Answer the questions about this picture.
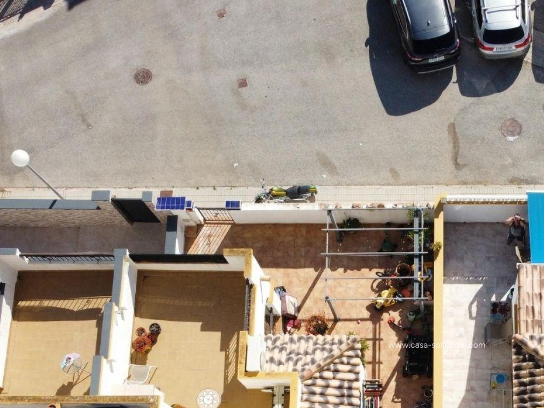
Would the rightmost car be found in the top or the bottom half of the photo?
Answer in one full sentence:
It is in the top half that the rightmost car appears.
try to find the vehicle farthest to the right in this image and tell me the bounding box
[473,0,533,61]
